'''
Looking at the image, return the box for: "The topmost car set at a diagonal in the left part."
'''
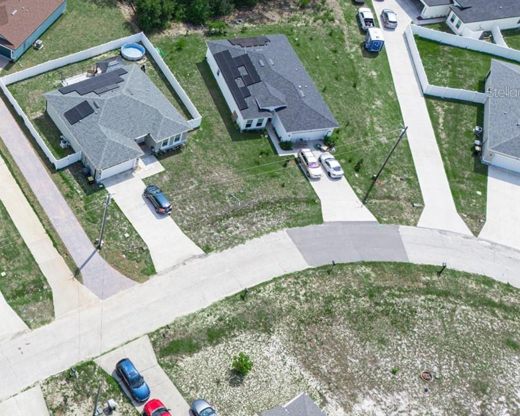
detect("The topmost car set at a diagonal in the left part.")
[141,182,176,216]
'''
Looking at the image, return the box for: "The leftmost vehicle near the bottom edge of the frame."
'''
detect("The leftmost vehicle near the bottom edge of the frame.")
[113,356,152,405]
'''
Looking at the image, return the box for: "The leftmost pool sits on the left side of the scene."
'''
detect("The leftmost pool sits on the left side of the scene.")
[120,40,147,63]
